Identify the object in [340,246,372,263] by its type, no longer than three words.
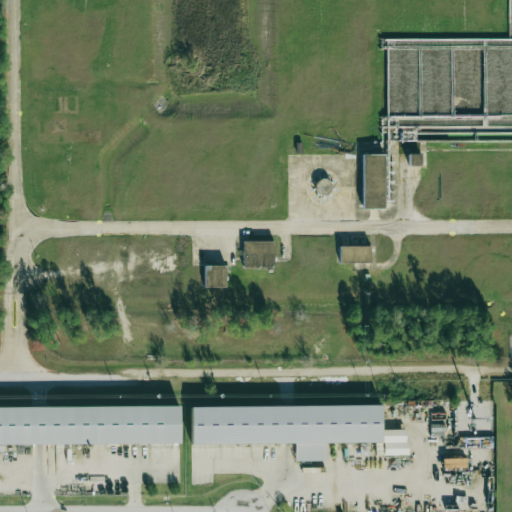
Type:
building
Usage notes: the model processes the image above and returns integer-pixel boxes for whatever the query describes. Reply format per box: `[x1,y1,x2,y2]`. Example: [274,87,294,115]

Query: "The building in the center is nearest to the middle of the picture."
[244,242,275,268]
